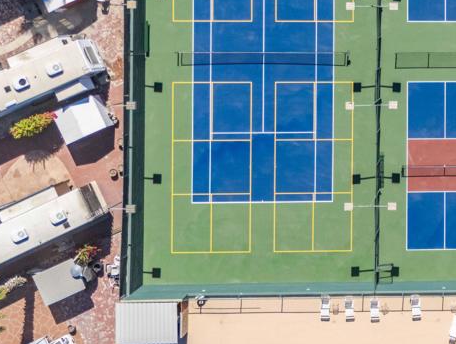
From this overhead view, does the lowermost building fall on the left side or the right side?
left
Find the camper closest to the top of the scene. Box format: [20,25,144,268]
[0,30,118,129]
